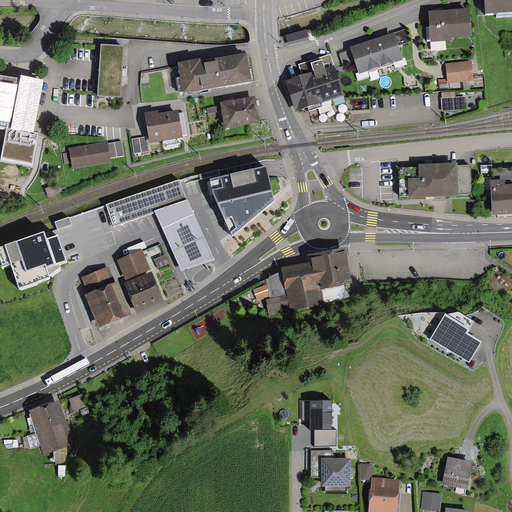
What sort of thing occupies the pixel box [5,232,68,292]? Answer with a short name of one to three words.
building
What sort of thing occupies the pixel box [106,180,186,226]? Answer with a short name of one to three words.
building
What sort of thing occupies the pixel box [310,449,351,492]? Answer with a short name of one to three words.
house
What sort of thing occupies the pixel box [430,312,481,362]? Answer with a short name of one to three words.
house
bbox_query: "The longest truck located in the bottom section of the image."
[46,356,92,385]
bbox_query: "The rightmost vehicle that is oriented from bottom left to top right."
[280,218,294,234]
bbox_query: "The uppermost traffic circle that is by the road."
[294,197,353,250]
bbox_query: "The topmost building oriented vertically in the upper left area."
[98,44,124,98]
